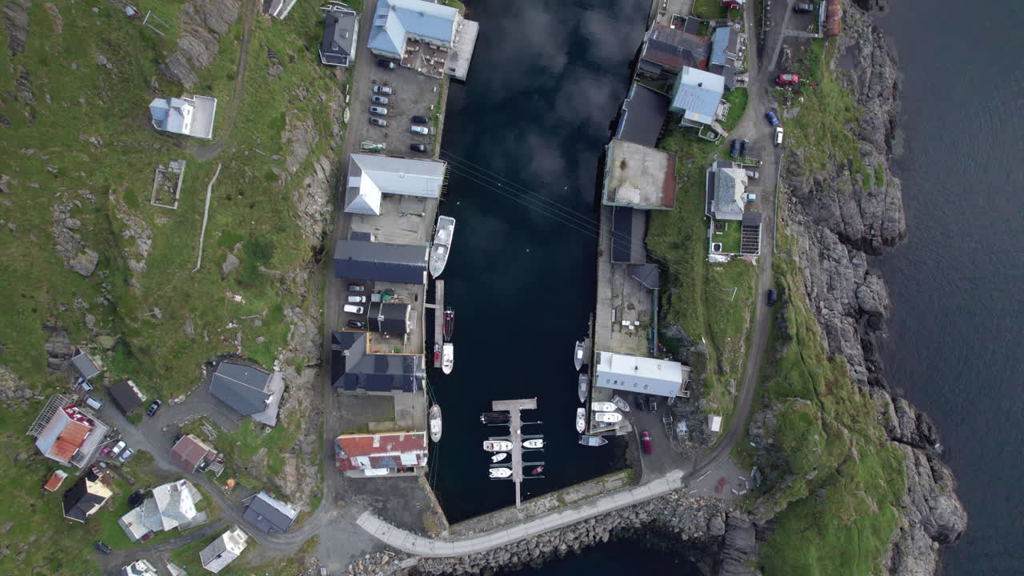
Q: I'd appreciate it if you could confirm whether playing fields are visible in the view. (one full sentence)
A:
No, the scene contains no playing field.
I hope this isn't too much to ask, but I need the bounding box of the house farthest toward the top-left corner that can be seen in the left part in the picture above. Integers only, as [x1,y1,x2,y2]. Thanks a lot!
[150,98,193,135]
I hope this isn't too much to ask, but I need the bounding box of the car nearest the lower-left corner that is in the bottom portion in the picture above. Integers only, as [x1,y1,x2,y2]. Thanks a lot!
[90,541,111,557]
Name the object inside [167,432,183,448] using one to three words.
car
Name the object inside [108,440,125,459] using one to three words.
car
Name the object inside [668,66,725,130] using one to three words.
building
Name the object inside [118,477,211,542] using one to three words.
house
